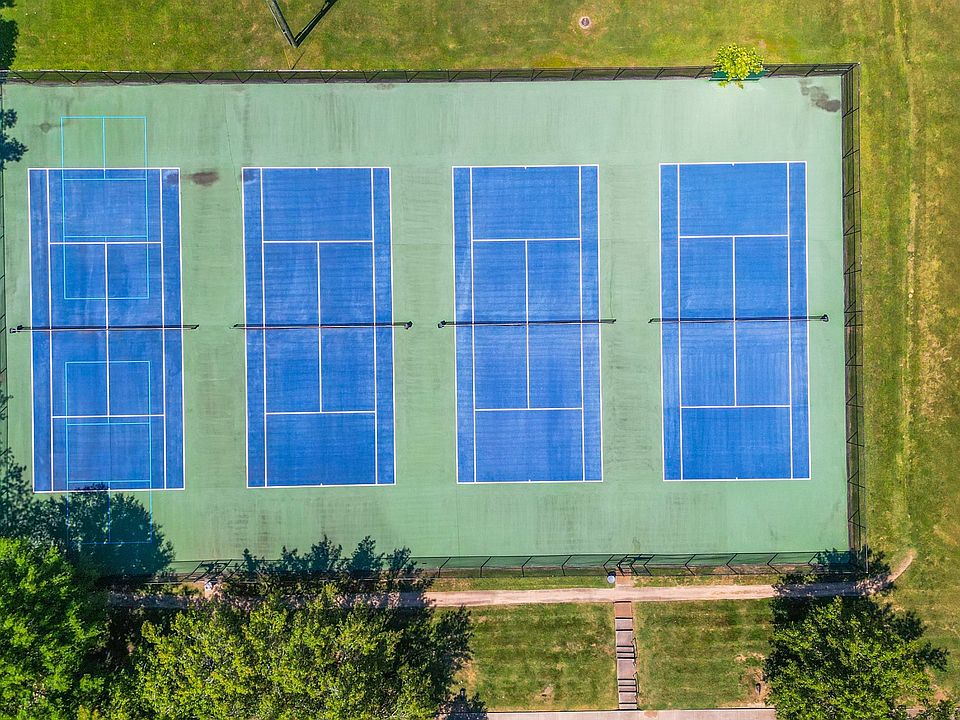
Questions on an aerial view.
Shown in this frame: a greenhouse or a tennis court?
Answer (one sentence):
The image shows a tennis court.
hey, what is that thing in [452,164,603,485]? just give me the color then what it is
blue tennis court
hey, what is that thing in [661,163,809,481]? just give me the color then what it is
blue tennis court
